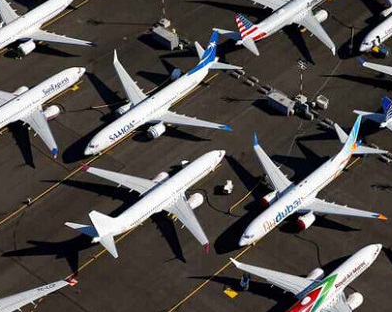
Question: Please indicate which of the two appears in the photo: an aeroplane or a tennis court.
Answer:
aeroplane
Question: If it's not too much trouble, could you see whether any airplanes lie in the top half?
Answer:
Yes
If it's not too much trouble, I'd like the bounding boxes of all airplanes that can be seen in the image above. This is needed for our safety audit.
[84,30,242,155]
[238,113,389,246]
[66,150,227,257]
[229,244,384,312]
[359,0,392,53]
[0,68,86,160]
[0,0,96,57]
[212,0,335,55]
[0,273,79,312]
